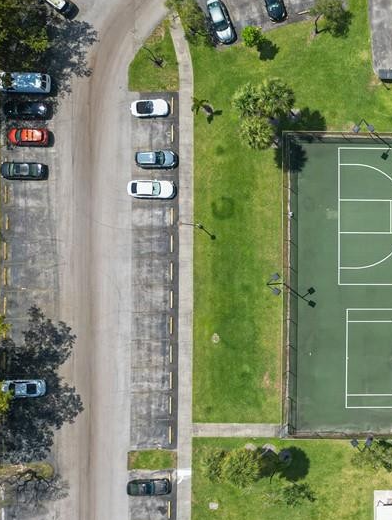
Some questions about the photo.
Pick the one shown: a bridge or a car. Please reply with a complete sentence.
Visible in the photo is a car.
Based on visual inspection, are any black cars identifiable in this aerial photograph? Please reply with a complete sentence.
Yes, the picture does show a black car.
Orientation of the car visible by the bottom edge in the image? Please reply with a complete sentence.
The car visible by the bottom edge has been laid out from side to side relative to the frame.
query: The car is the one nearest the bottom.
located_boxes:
[127,477,173,498]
